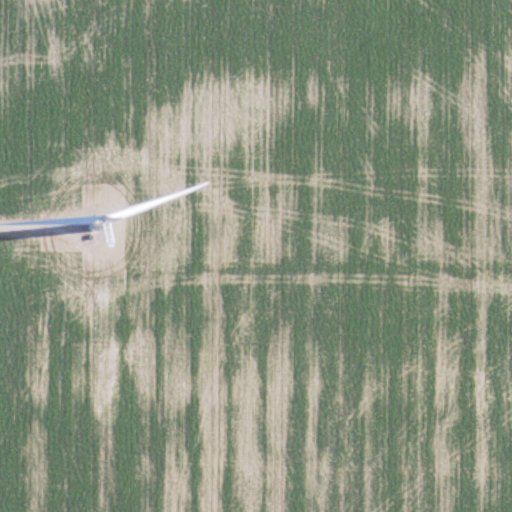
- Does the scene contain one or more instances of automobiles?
No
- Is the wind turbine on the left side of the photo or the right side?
left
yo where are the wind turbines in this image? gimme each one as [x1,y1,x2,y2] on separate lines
[0,182,209,247]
